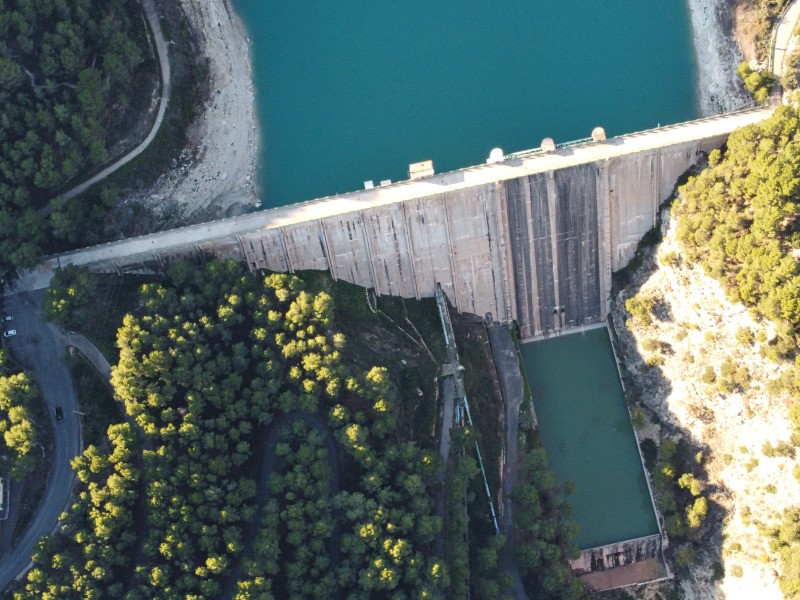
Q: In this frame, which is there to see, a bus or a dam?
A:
dam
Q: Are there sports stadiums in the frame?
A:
No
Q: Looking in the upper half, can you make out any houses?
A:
Yes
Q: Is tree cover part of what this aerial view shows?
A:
Yes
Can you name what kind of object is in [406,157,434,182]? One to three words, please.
house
